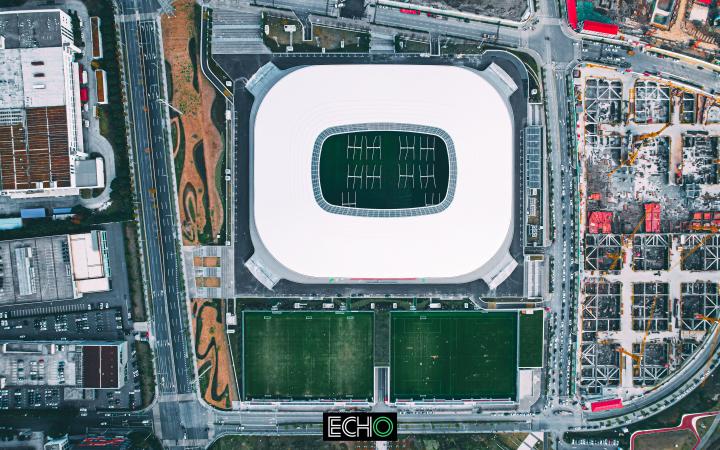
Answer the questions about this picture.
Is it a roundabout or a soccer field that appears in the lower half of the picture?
soccer field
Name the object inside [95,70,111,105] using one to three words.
shed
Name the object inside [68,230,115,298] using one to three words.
building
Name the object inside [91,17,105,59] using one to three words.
shed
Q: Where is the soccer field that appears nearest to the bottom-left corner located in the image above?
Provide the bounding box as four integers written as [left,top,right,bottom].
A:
[242,311,374,401]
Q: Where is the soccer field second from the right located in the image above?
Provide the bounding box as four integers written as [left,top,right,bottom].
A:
[390,311,520,401]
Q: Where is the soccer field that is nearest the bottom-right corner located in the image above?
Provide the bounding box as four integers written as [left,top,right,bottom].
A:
[519,310,544,368]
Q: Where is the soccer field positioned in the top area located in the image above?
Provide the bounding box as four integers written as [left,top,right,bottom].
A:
[322,131,447,209]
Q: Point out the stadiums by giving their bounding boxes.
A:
[245,62,518,290]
